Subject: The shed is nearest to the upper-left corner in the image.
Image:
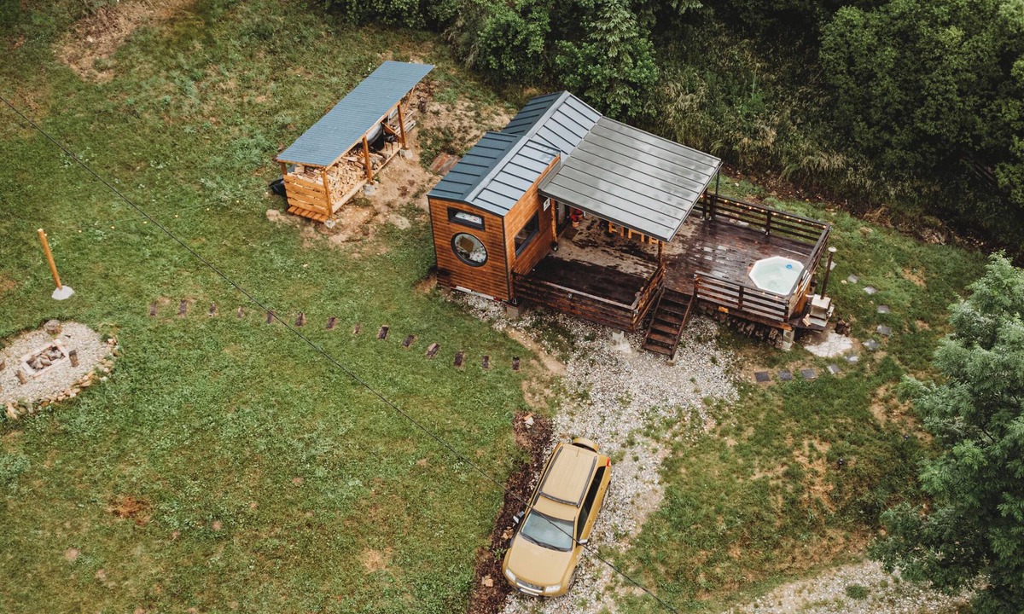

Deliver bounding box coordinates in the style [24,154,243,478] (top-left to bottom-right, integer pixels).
[272,60,441,227]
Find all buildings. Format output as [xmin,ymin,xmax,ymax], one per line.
[272,60,441,227]
[425,88,604,305]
